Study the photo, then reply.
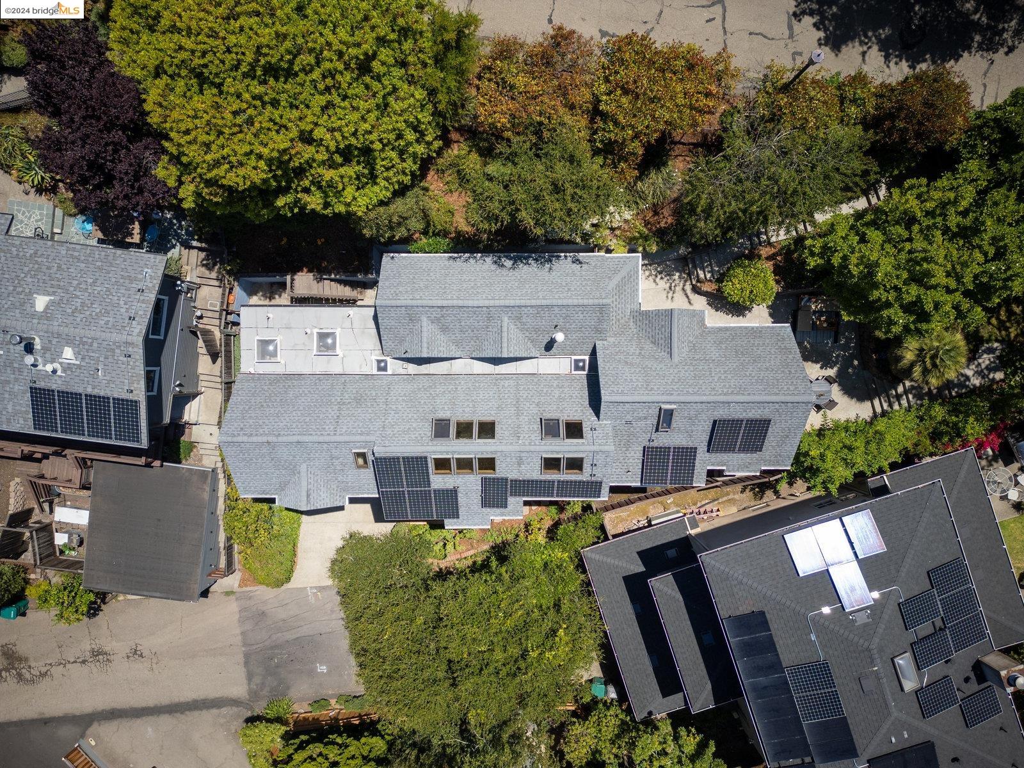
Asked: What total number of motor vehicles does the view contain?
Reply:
0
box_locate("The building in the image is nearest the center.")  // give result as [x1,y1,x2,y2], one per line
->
[219,252,813,529]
